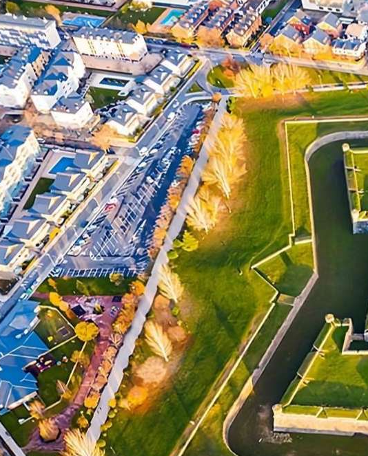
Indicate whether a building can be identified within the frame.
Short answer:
Yes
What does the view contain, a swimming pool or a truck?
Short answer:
swimming pool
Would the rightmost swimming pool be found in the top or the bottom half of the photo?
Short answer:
top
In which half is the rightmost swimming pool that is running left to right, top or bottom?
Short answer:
top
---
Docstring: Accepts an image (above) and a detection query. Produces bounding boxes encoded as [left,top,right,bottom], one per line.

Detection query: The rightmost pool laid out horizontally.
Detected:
[87,71,140,94]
